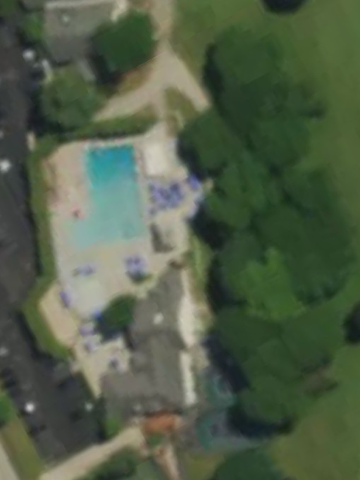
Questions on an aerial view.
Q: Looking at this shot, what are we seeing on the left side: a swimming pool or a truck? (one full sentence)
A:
It is a swimming pool that can be seen on the left side.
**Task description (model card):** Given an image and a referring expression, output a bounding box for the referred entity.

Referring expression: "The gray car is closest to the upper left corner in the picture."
[21,45,35,65]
